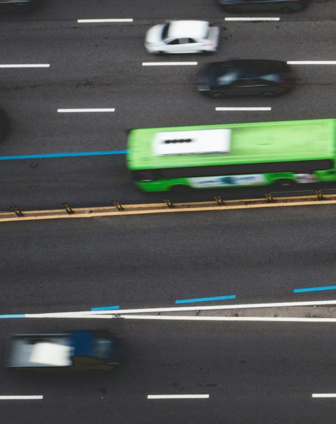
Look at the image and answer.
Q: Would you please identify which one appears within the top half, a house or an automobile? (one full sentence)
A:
What appears within the top half is an automobile.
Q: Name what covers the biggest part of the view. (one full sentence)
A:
For the most part, this view shows paved ground.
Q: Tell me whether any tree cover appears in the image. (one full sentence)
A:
No, no tree cover is visible.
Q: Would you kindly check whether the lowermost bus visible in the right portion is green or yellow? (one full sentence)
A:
In this view, the lowermost bus visible in the right portion is green.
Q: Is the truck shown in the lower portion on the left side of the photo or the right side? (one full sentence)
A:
The truck shown in the lower portion sits on the left side.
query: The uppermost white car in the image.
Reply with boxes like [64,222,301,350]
[145,16,220,54]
